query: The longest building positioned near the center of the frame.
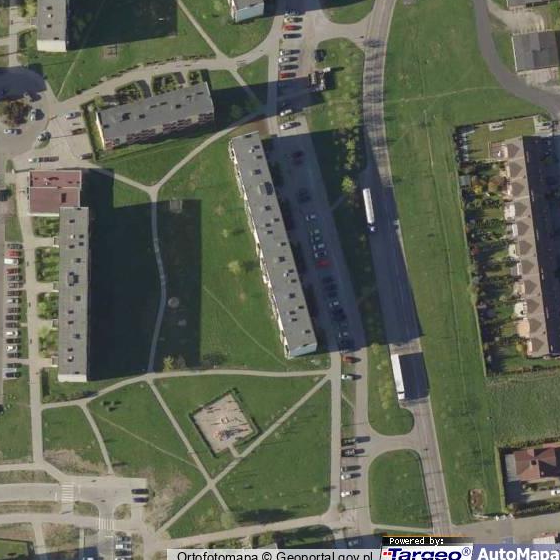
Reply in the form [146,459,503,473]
[226,133,317,358]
